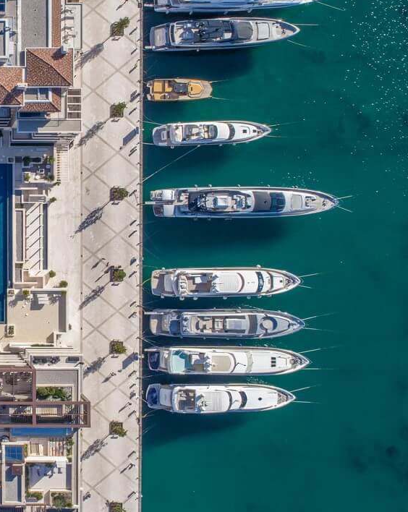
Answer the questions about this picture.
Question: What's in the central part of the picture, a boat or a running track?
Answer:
boat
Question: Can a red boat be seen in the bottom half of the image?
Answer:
No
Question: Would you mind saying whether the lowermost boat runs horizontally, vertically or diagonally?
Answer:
horizontally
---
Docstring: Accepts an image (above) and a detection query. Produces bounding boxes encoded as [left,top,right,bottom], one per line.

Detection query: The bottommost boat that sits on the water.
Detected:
[138,383,313,419]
